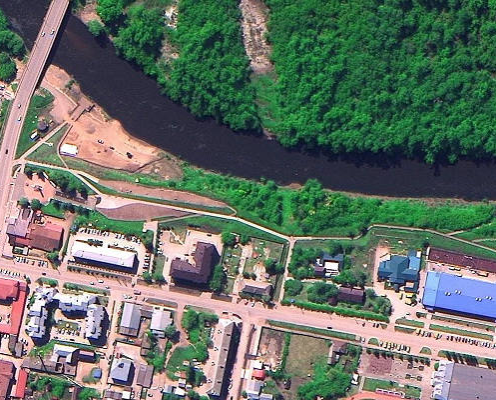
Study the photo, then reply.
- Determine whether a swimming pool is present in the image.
No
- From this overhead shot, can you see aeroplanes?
No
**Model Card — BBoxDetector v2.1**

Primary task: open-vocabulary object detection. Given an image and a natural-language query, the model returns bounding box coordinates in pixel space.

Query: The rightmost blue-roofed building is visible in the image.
[422,271,496,320]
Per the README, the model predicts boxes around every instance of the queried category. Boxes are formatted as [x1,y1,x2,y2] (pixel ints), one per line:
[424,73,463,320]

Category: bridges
[17,0,69,101]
